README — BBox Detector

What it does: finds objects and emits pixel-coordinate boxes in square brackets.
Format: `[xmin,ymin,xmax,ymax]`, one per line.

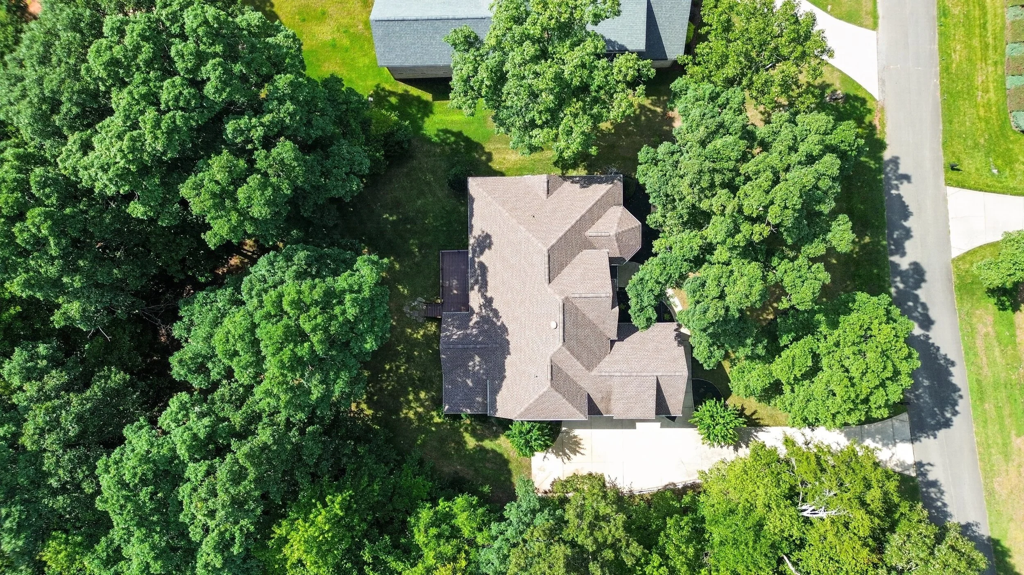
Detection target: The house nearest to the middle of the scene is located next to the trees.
[441,173,688,421]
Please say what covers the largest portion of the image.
trees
